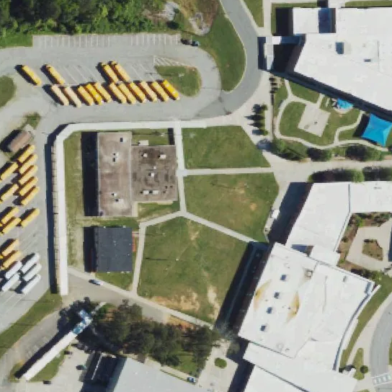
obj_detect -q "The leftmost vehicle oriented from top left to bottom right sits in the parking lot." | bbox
[19,65,41,86]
